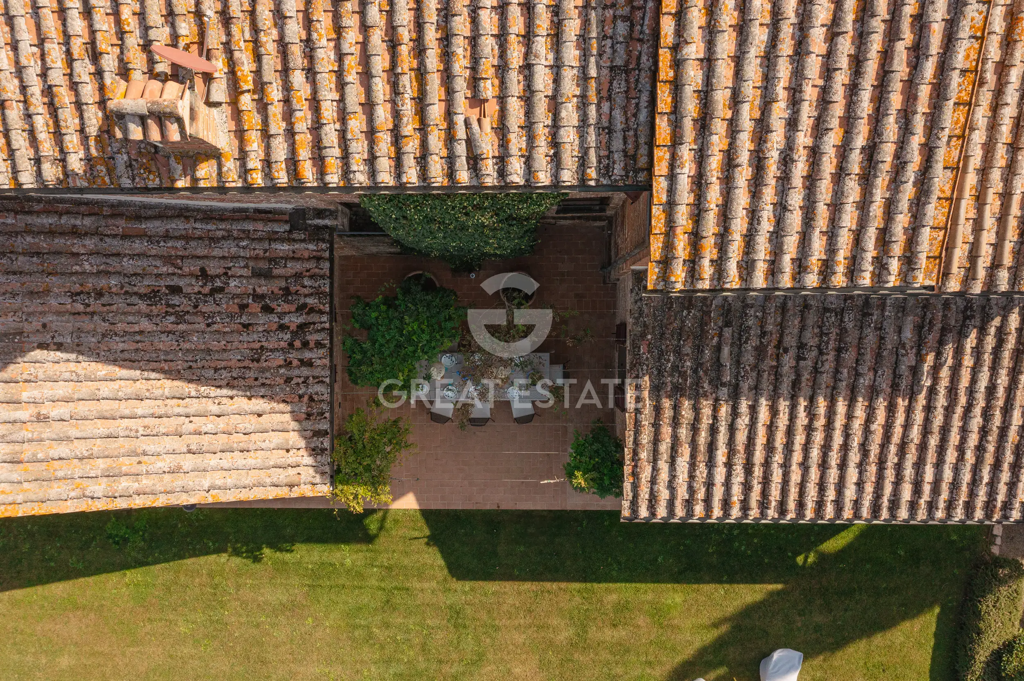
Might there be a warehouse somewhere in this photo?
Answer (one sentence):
No, no warehouse is visible in the view.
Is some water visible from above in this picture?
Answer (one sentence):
No, there is no water in the image.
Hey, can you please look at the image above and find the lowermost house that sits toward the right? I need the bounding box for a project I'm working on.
[612,259,1024,526]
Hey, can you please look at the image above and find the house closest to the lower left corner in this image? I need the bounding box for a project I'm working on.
[0,196,342,523]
